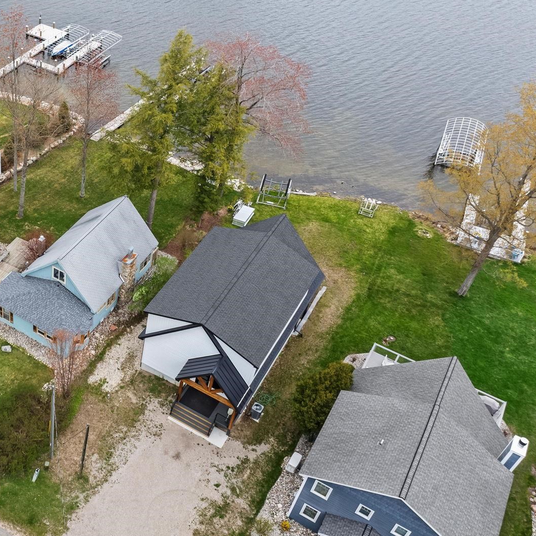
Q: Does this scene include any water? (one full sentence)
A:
Yes, the picture does contain water.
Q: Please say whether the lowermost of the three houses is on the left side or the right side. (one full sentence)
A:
The lowermost of the three houses appears in the right half of the scene.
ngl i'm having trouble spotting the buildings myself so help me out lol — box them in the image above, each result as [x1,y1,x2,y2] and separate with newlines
[135,213,328,446]
[0,196,157,353]
[287,343,533,536]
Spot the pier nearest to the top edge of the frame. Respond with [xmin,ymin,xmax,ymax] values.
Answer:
[0,16,106,82]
